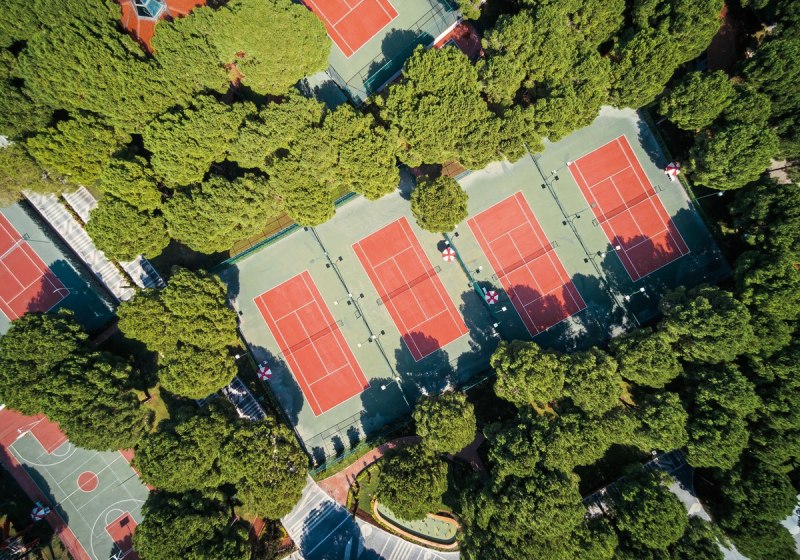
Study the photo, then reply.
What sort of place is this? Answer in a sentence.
The picture captures a sports ground.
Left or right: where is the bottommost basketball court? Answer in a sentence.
You can find the bottommost basketball court on the left side of the picture.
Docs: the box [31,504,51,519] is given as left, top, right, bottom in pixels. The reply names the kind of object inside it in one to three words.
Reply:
umbrella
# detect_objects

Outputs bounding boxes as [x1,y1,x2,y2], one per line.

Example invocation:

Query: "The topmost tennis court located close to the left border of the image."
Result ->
[0,171,123,356]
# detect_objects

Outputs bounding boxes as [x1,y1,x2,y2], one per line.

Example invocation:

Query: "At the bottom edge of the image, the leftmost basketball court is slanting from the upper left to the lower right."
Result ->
[0,376,189,560]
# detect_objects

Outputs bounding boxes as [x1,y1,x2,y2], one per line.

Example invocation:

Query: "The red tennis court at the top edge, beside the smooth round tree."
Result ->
[273,0,455,105]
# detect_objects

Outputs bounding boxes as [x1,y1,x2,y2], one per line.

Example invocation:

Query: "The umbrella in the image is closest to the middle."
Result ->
[441,248,455,262]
